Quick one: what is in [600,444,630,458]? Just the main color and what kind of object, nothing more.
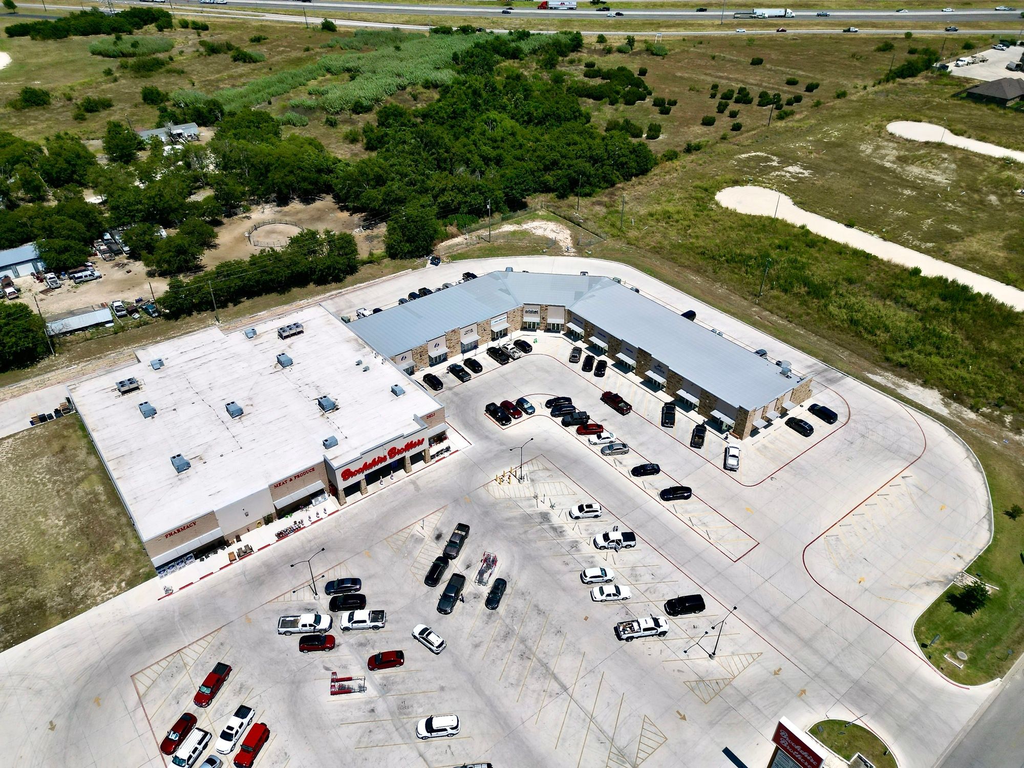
gray car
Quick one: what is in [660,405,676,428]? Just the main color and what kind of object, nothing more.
black vehicle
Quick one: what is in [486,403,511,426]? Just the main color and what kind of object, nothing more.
black truck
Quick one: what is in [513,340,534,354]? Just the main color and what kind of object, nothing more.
black car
